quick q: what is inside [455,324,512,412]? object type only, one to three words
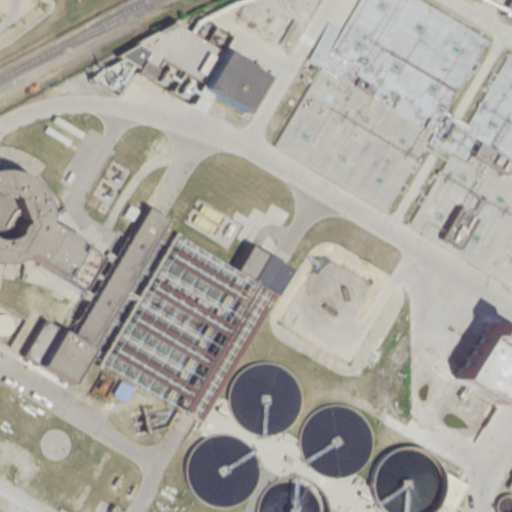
building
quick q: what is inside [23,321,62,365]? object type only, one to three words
shed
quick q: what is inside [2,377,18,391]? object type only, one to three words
vehicle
